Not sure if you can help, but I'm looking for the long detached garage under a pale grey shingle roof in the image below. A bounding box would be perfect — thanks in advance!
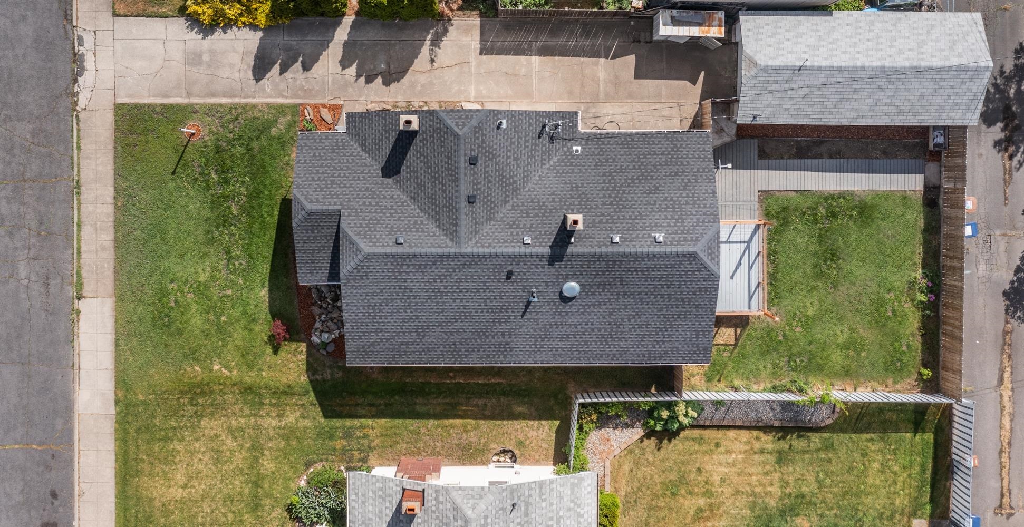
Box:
[730,11,993,124]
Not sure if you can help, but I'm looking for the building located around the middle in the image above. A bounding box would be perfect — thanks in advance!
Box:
[290,105,724,367]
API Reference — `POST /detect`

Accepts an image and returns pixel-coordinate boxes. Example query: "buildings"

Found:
[730,11,993,124]
[345,457,600,527]
[290,105,724,367]
[652,9,725,53]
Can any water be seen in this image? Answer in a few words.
No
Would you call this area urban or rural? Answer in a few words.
urban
